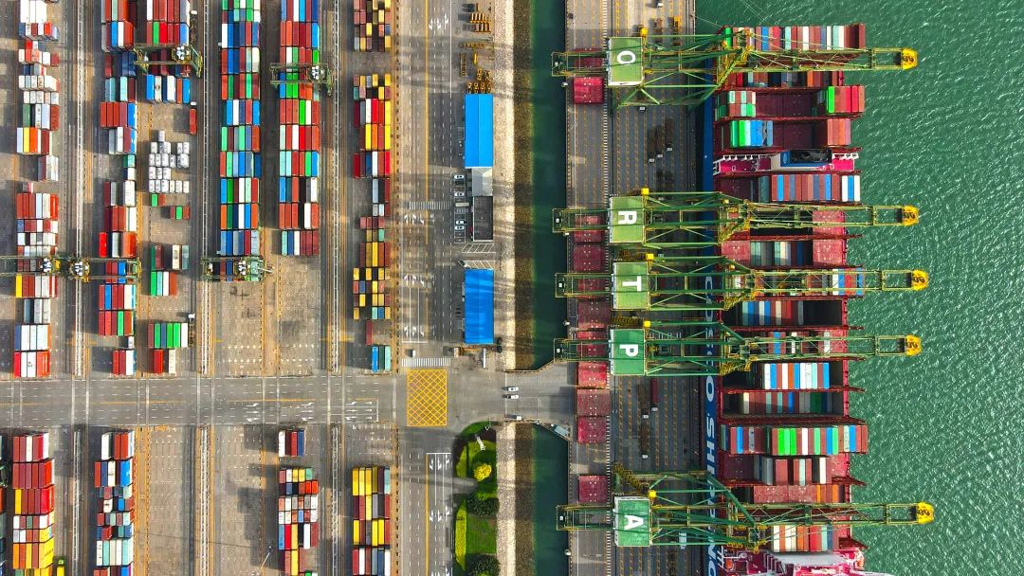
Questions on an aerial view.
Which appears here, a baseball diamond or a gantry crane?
gantry crane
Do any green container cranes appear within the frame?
Yes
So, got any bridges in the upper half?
No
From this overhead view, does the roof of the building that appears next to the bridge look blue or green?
blue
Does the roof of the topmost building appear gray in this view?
No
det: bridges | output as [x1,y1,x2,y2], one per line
[494,362,572,447]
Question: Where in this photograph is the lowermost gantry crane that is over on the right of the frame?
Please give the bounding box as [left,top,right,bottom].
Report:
[557,463,934,549]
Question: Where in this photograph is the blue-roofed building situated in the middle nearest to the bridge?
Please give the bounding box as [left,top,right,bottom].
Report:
[465,269,494,344]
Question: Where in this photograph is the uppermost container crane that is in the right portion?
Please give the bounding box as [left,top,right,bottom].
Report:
[551,31,918,117]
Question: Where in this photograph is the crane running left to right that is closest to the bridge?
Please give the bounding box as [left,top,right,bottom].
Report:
[553,315,921,378]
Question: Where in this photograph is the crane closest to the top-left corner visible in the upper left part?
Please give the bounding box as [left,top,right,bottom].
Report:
[136,44,216,81]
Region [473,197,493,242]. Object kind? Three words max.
building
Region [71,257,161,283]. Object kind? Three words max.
crane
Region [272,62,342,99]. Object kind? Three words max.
crane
